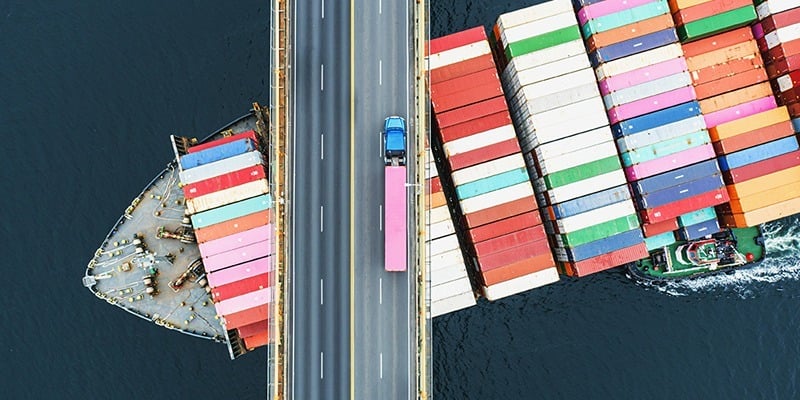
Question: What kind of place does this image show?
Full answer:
What you see here is a port.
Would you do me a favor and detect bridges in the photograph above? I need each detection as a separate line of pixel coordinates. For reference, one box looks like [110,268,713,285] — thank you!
[267,0,431,400]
